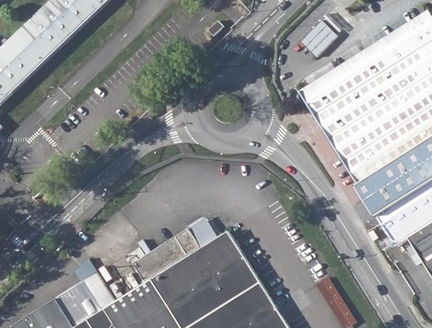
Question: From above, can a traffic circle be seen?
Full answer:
Yes, a traffic circle appears in the view.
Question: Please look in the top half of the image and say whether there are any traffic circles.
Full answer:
Yes, in the top half of the image there is a traffic circle.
